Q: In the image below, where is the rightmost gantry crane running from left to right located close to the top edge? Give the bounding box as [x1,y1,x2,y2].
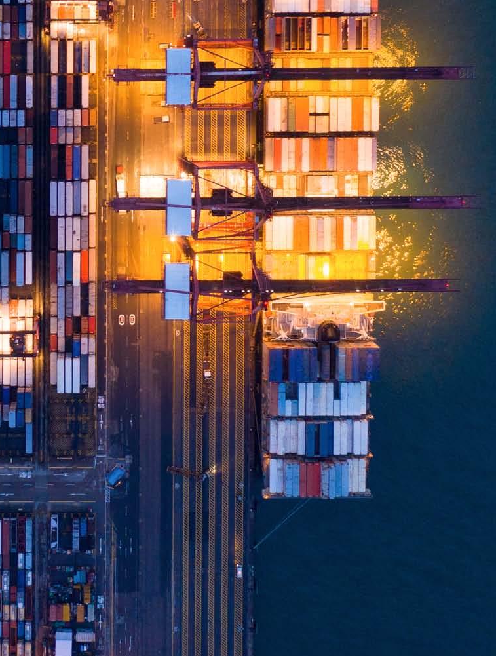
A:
[108,28,476,118]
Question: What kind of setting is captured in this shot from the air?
port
